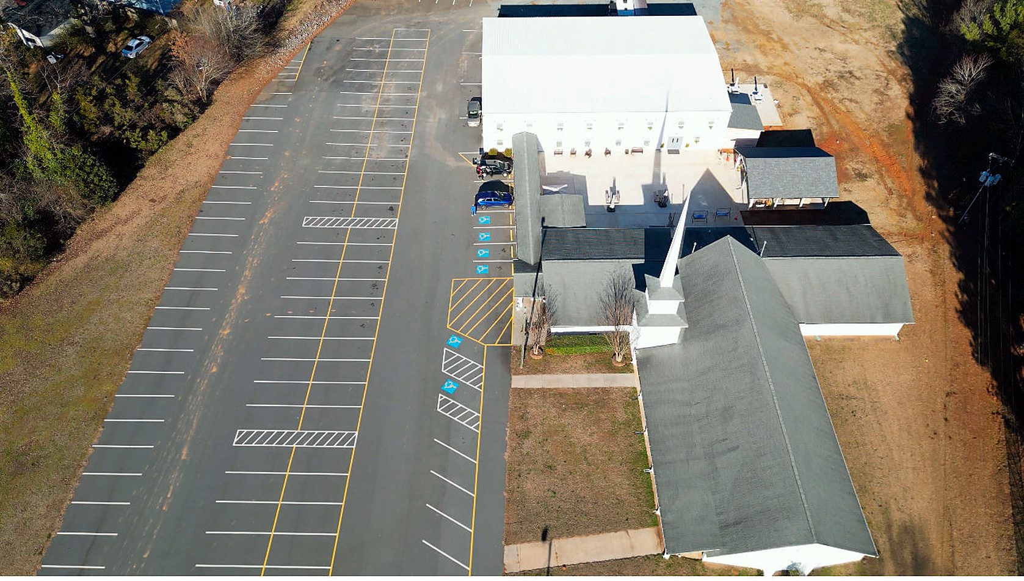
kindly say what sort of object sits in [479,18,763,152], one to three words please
building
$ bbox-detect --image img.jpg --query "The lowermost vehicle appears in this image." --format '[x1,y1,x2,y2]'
[475,187,514,206]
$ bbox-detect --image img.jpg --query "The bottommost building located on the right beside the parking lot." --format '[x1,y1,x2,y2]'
[513,195,914,581]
